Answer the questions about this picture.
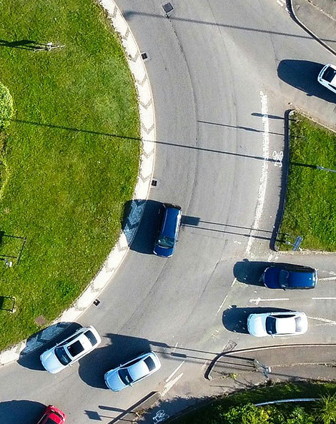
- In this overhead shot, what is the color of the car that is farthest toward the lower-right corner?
white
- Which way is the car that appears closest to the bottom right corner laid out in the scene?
from left to right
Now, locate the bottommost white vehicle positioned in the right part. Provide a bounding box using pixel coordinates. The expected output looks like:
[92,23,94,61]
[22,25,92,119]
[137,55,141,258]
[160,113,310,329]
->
[247,310,307,337]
